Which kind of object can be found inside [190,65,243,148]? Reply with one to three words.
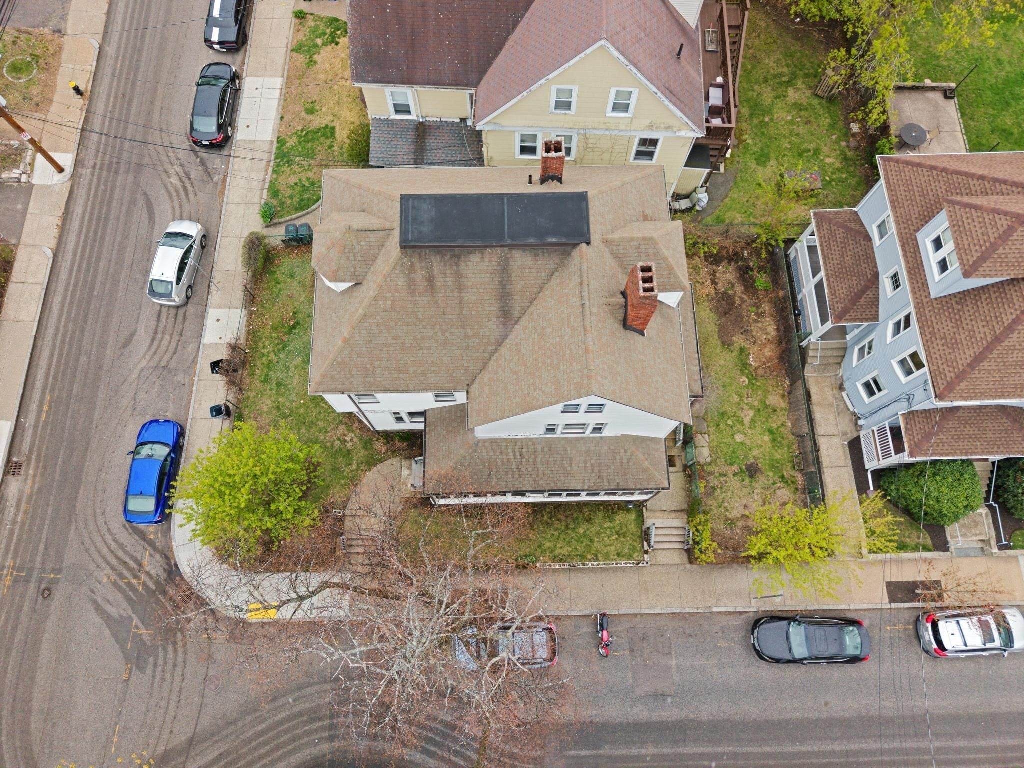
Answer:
car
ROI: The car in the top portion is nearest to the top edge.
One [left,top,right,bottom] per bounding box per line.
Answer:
[207,0,251,44]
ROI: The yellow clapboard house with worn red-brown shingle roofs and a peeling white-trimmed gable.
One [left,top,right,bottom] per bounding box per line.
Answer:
[348,0,753,200]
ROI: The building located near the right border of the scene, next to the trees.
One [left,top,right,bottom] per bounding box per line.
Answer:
[787,150,1024,491]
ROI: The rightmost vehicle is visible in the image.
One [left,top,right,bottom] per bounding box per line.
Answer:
[911,608,1024,659]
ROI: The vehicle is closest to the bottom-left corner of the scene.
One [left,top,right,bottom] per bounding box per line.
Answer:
[123,420,184,525]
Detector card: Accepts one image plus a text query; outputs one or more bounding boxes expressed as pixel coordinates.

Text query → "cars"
[148,221,207,309]
[123,420,184,525]
[751,616,874,667]
[911,608,1024,659]
[190,65,243,148]
[207,0,251,44]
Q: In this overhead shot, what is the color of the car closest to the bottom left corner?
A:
blue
